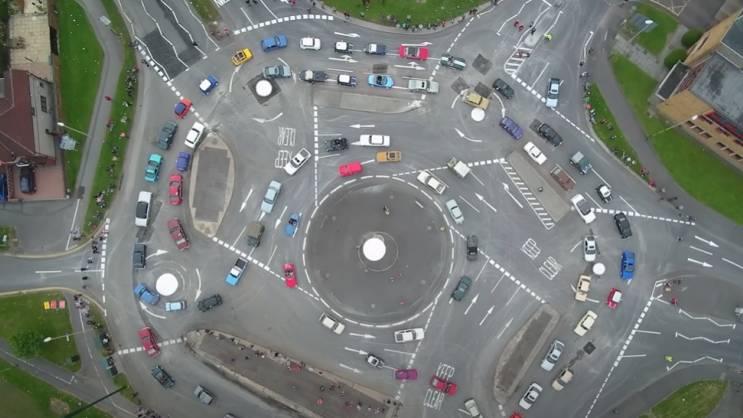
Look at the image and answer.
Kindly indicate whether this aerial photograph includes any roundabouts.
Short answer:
Yes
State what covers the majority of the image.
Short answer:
paved ground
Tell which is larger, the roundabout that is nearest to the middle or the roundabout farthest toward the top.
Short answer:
the roundabout that is nearest to the middle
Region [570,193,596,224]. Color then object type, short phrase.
white car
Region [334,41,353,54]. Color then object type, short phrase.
white vehicle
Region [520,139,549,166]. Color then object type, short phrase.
white car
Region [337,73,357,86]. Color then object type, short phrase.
white vehicle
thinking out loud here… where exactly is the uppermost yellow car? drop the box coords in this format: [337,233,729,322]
[229,48,254,67]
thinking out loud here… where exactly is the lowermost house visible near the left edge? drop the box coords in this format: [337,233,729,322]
[0,63,55,168]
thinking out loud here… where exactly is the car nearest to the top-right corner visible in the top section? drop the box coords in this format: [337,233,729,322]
[545,78,560,109]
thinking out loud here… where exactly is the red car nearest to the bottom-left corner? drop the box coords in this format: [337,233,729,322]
[139,326,160,358]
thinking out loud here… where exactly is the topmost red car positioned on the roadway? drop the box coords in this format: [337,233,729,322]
[399,45,429,60]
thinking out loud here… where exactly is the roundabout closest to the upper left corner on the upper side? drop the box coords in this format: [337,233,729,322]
[243,69,282,105]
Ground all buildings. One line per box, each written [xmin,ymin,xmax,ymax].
[647,0,743,166]
[0,63,55,168]
[45,24,62,57]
